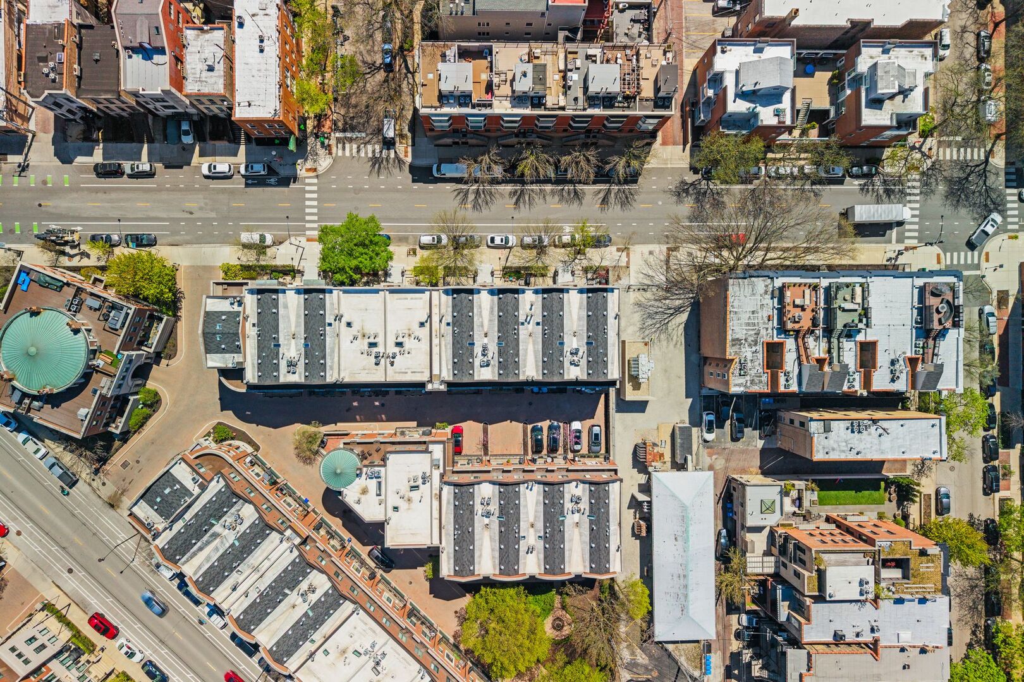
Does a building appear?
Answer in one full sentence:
Yes, the photo shows a building.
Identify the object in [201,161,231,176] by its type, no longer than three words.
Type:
car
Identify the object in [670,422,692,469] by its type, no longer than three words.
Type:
shed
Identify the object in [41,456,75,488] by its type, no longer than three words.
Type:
vehicle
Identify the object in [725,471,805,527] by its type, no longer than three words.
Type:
house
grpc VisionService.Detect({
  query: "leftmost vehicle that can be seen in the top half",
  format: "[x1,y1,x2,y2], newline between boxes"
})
[27,227,77,243]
